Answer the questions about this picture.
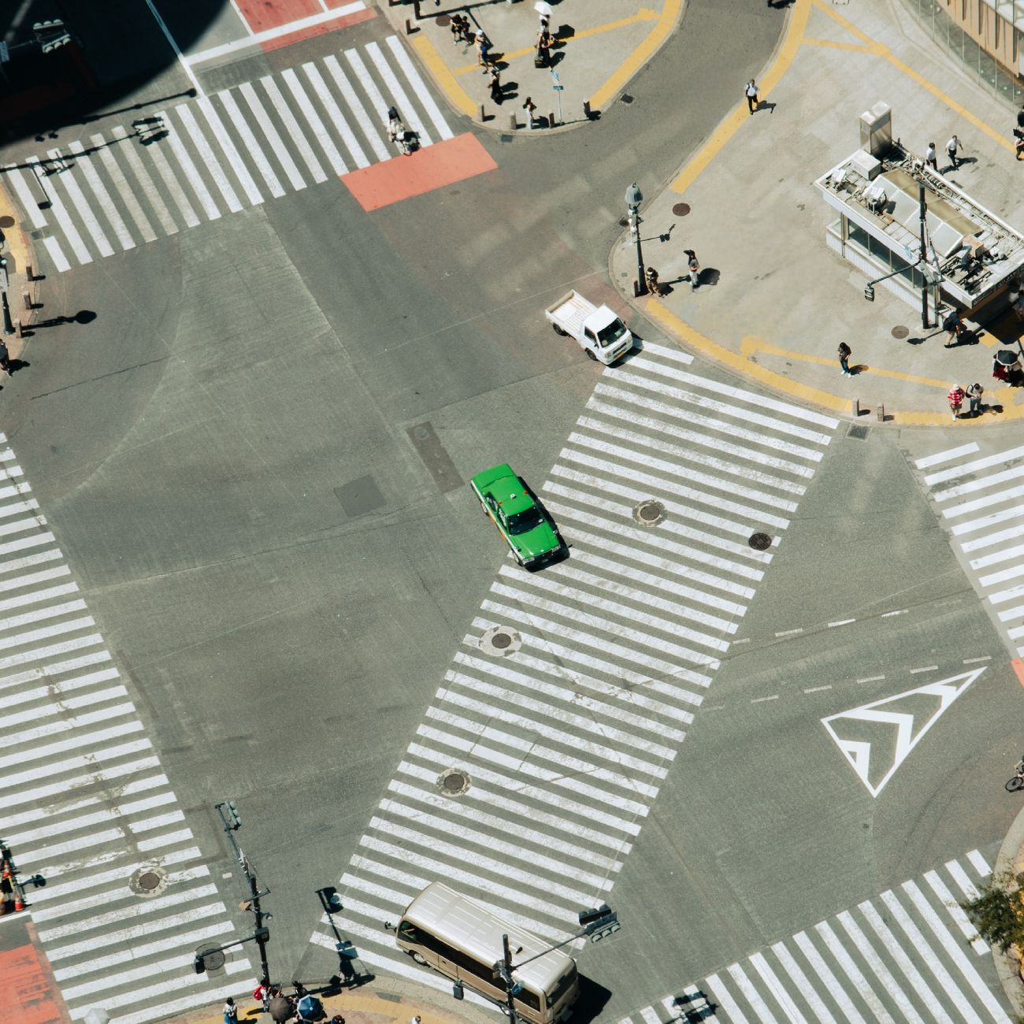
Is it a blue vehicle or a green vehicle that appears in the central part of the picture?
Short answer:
green vehicle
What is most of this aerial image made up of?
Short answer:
paved ground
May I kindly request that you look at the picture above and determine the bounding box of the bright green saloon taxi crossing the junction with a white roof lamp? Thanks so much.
[469,464,564,570]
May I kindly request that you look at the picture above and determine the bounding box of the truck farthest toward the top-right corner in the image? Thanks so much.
[543,285,633,364]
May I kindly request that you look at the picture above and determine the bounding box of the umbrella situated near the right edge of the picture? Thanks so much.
[992,350,1016,373]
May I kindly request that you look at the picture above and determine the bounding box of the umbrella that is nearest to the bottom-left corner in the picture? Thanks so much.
[84,1003,110,1024]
